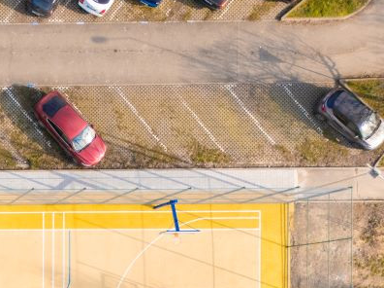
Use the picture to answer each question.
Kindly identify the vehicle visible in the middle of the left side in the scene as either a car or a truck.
car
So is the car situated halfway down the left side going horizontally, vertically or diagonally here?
diagonally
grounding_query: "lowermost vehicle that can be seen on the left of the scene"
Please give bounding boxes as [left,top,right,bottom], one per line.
[41,90,110,167]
